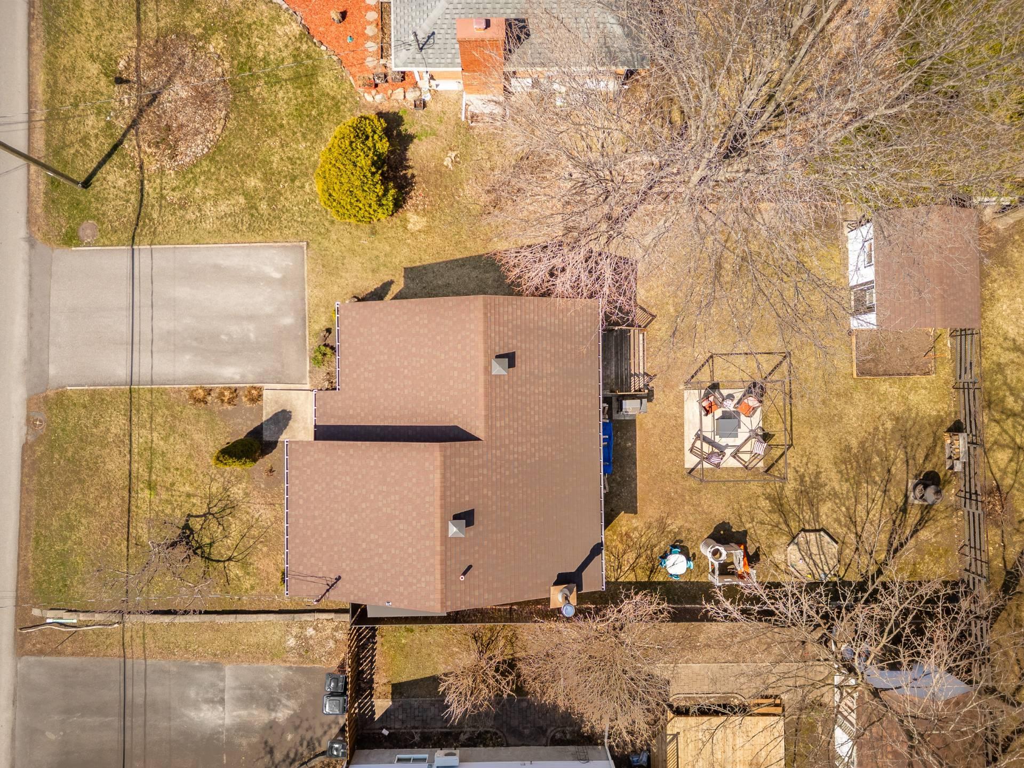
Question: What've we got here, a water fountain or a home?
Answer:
home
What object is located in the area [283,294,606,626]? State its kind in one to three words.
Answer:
house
